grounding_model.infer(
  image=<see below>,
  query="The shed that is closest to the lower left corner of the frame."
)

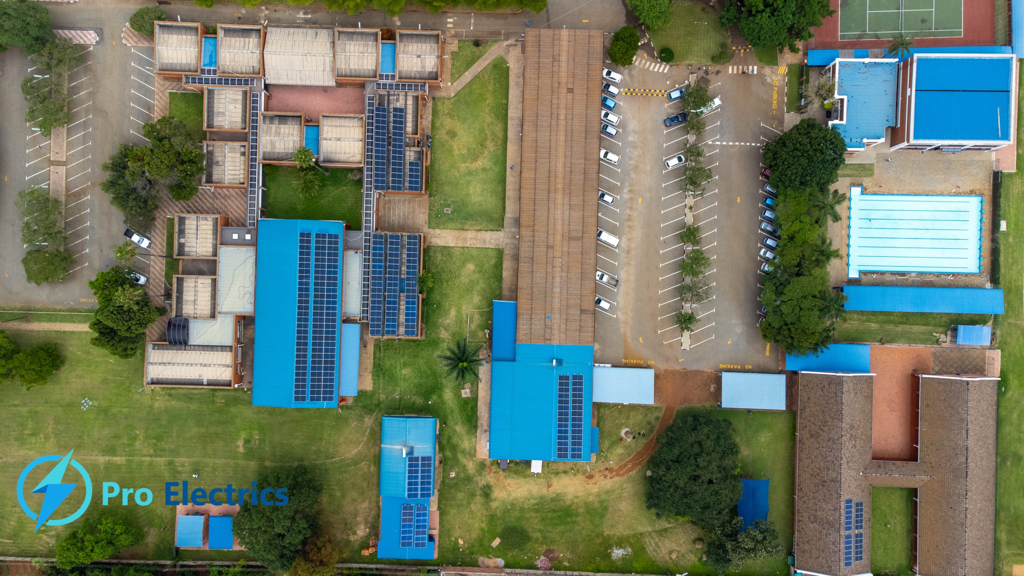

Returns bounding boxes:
[177,513,208,547]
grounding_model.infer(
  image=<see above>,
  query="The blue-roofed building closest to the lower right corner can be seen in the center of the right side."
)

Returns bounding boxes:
[950,325,991,345]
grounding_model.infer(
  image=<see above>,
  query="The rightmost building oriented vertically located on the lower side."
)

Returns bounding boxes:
[910,375,998,576]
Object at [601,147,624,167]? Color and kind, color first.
white vehicle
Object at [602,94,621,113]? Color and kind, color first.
blue car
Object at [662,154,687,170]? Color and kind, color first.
white car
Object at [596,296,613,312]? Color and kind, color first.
white car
